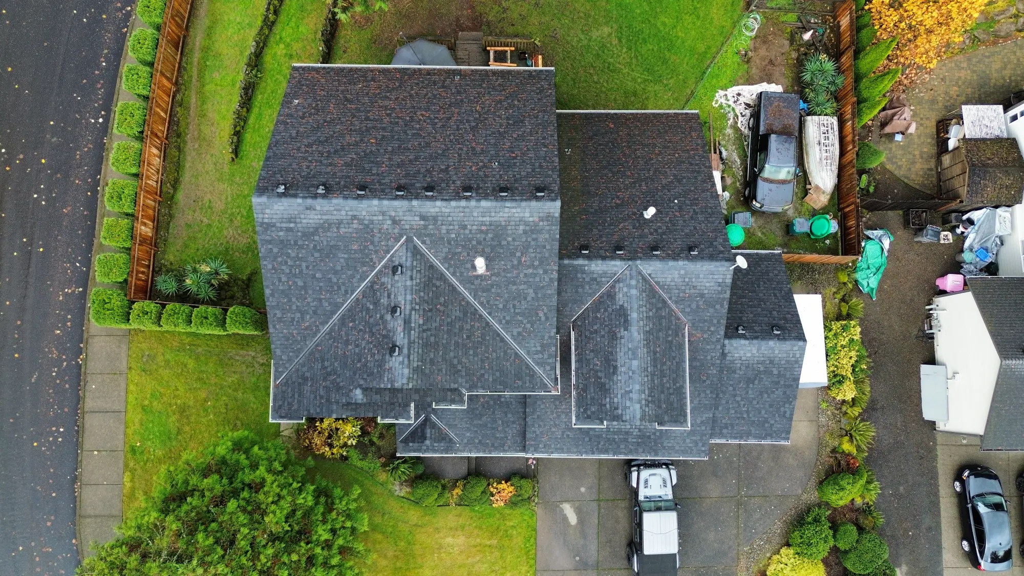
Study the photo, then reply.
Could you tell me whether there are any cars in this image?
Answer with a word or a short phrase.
Yes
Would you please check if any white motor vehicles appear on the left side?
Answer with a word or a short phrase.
No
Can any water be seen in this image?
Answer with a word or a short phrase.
No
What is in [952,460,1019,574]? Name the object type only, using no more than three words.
car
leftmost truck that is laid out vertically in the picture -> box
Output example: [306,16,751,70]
[624,459,681,576]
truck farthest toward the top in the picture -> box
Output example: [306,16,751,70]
[742,98,797,215]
